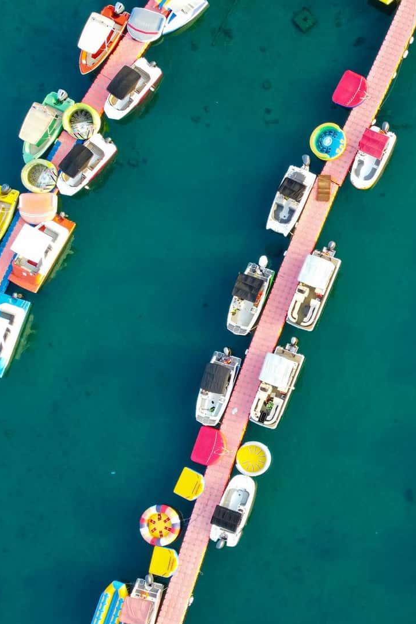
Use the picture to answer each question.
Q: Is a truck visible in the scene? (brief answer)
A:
No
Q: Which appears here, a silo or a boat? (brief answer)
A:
boat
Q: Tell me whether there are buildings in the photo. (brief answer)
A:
No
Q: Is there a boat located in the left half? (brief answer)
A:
Yes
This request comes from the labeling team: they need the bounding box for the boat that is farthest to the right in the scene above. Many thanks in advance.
[354,124,395,191]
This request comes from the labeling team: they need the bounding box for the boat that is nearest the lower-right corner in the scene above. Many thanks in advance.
[212,473,255,547]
